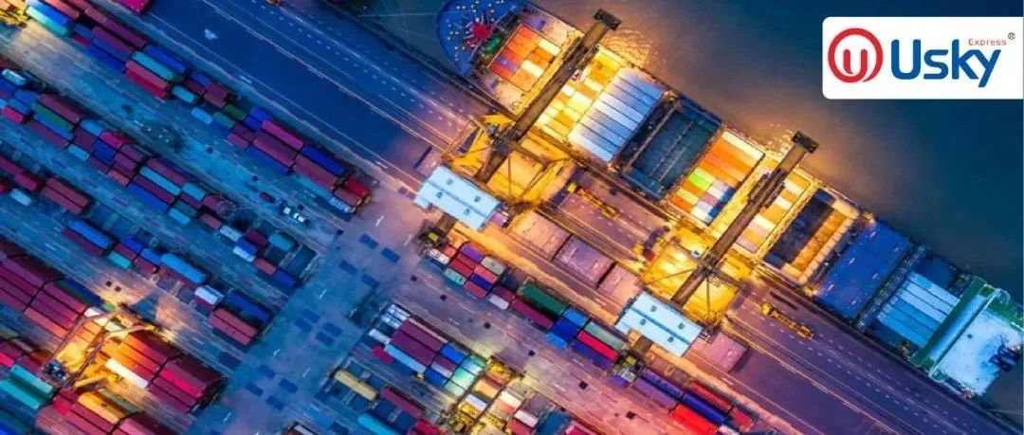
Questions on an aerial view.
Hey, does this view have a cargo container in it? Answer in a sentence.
Yes, there's a cargo container here.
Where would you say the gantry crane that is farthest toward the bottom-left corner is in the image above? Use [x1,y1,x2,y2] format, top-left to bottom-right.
[51,310,137,388]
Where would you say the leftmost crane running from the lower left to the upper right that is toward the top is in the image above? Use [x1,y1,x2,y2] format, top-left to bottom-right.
[413,3,625,248]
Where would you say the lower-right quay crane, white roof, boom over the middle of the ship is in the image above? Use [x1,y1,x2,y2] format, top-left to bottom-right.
[611,122,824,381]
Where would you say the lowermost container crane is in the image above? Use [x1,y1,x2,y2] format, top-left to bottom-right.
[440,352,521,433]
